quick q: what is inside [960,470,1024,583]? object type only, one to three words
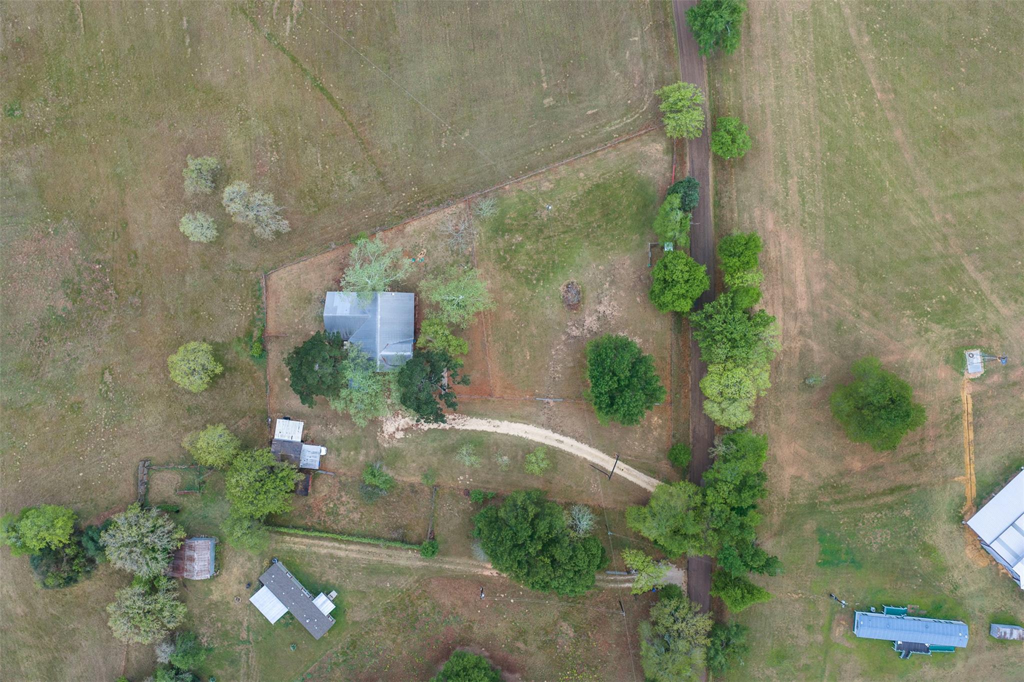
building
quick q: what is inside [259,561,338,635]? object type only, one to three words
house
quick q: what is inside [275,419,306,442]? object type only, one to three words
shed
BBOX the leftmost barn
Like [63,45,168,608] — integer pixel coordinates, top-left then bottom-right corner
[166,536,215,579]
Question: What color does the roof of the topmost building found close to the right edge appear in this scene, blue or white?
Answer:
white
